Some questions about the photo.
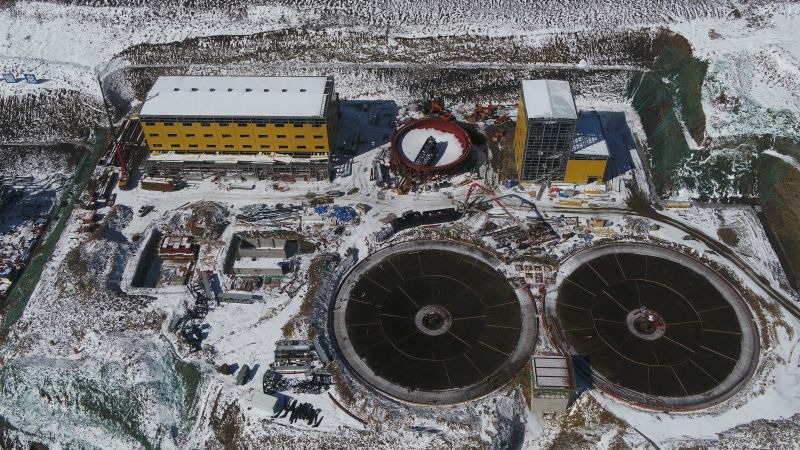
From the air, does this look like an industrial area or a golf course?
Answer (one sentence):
This looks like an industrial area.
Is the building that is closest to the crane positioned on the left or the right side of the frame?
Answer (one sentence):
The building that is closest to the crane sits on the left side.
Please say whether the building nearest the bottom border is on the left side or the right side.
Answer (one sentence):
You can find the building nearest the bottom border on the right side of the picture.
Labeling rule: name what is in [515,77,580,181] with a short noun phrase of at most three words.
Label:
building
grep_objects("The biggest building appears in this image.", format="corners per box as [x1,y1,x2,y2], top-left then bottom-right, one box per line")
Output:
[138,75,338,184]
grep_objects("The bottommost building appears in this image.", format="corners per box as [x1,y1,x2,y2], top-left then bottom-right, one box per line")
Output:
[528,354,584,420]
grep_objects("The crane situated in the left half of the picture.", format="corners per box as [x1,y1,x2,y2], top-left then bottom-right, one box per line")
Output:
[97,76,134,187]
